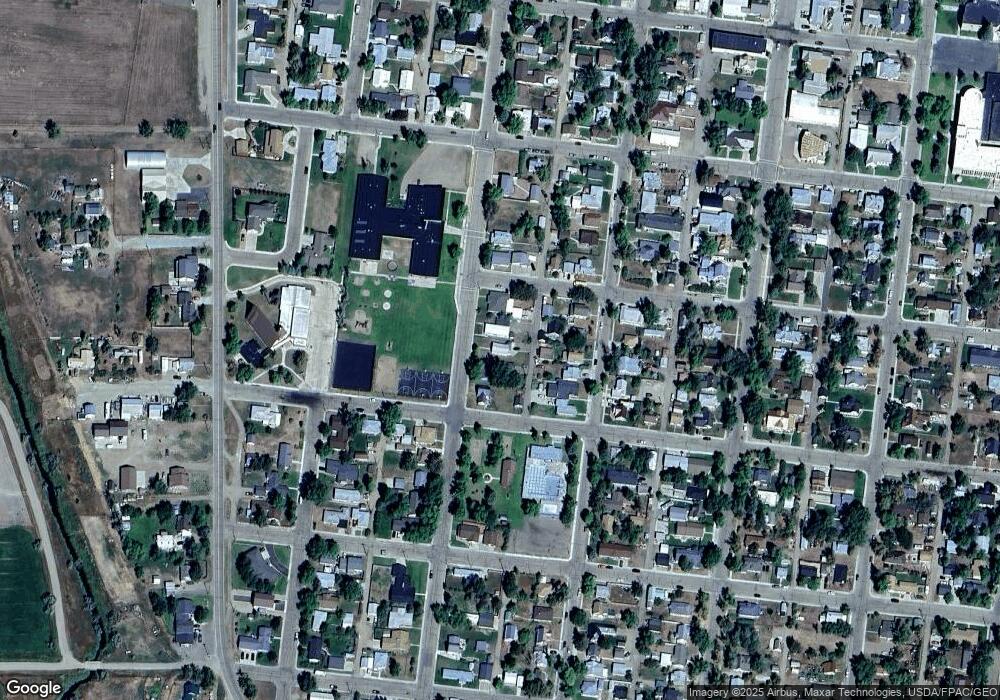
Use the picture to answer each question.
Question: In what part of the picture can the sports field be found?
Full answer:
The sports field appears toward the center of the photo.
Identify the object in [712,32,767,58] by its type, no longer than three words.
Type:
building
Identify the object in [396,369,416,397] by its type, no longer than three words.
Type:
basketball court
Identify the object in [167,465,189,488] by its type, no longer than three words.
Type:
house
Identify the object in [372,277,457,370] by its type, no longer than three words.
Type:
sports field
